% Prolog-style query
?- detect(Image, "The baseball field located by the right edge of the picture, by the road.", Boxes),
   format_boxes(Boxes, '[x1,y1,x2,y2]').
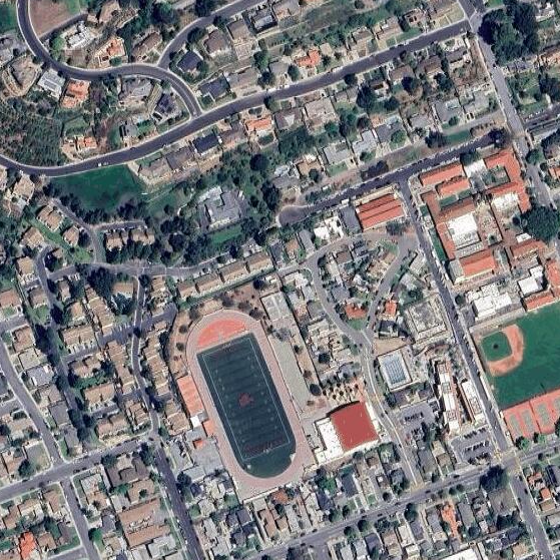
[472,301,560,409]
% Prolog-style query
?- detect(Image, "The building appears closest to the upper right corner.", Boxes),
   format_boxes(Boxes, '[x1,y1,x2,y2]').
[536,0,559,23]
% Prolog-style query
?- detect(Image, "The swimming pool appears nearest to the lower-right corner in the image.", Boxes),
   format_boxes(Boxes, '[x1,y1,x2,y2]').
[379,350,411,388]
